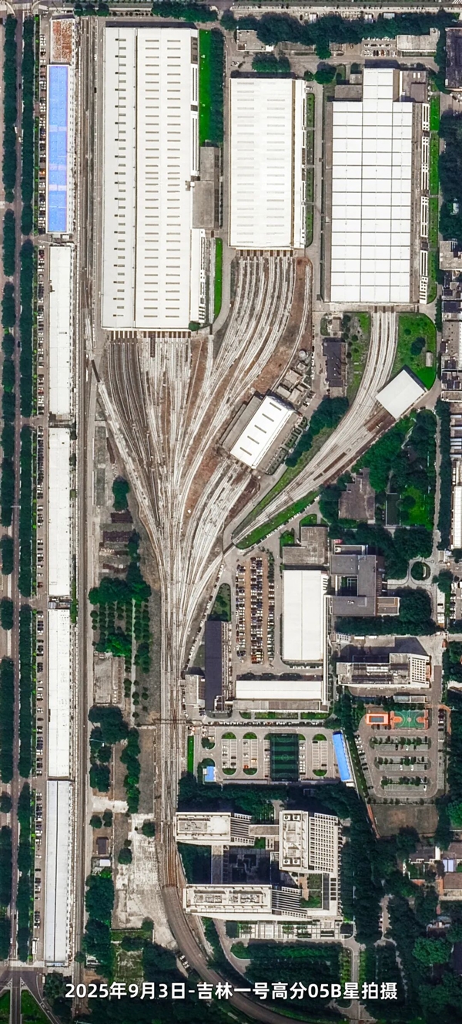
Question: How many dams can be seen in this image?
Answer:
none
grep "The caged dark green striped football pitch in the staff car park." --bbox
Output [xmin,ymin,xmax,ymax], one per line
[268,733,299,780]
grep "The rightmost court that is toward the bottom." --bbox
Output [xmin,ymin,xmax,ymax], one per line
[391,710,429,729]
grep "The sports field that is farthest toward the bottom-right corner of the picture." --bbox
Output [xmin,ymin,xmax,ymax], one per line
[373,804,438,835]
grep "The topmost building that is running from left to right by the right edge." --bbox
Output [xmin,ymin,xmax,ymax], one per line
[397,28,443,51]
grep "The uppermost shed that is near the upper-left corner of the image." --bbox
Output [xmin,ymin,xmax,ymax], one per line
[50,19,76,64]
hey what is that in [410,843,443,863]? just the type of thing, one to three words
house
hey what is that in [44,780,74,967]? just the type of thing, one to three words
shed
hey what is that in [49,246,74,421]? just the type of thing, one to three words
shed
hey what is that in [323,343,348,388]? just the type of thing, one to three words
building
